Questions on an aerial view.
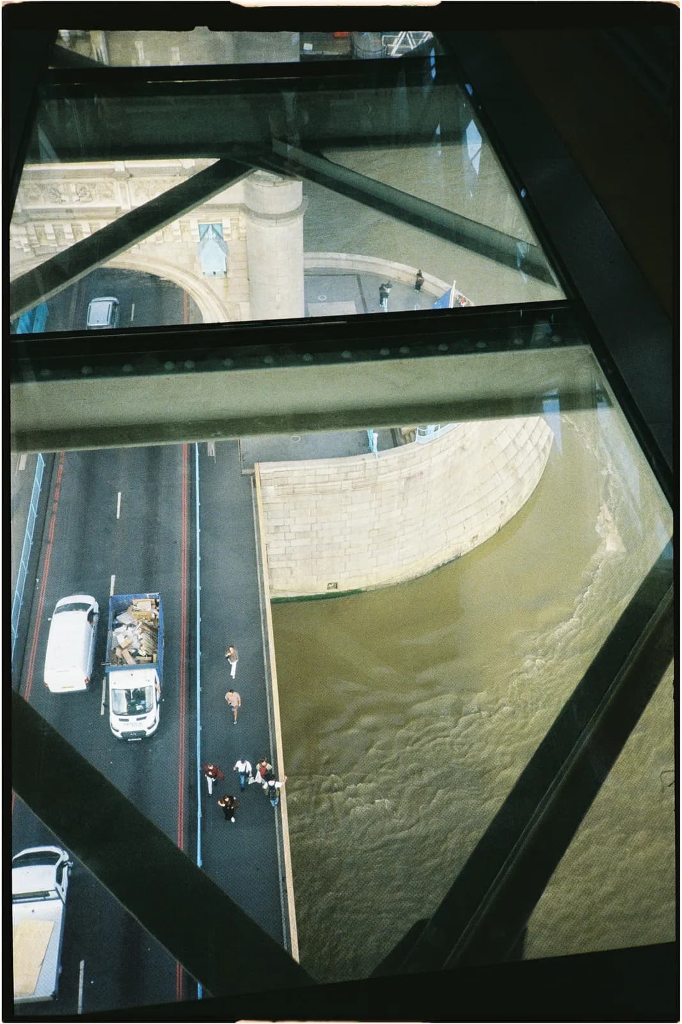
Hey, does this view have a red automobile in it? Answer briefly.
No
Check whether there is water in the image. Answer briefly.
Yes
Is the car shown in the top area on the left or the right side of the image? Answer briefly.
left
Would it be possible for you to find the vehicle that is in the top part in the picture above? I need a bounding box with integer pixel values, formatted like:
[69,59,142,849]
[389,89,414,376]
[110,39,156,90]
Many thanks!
[90,299,124,325]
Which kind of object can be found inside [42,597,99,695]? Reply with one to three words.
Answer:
van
